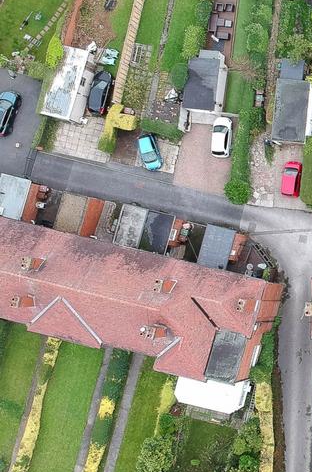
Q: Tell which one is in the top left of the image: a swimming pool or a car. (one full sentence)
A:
Visible in the top left of the image is a car.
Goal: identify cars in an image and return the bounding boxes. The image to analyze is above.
[281,159,303,198]
[0,92,24,137]
[211,117,235,158]
[136,132,166,173]
[88,71,114,115]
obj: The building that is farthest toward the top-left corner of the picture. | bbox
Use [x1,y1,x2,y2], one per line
[41,46,104,121]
